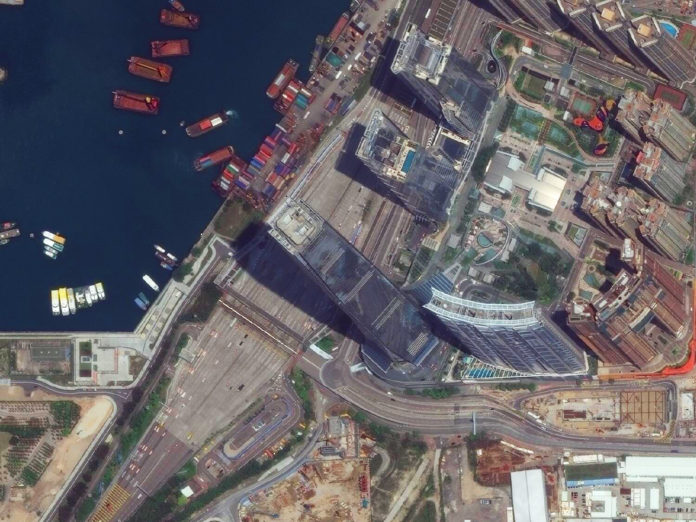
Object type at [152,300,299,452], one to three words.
toll station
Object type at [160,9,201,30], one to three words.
ship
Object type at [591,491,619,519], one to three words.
building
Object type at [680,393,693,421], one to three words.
shed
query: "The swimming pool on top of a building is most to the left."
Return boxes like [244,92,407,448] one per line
[402,149,416,174]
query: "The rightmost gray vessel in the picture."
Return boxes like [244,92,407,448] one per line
[310,37,322,70]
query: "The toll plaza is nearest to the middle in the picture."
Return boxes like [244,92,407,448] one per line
[218,283,307,355]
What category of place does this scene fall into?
port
